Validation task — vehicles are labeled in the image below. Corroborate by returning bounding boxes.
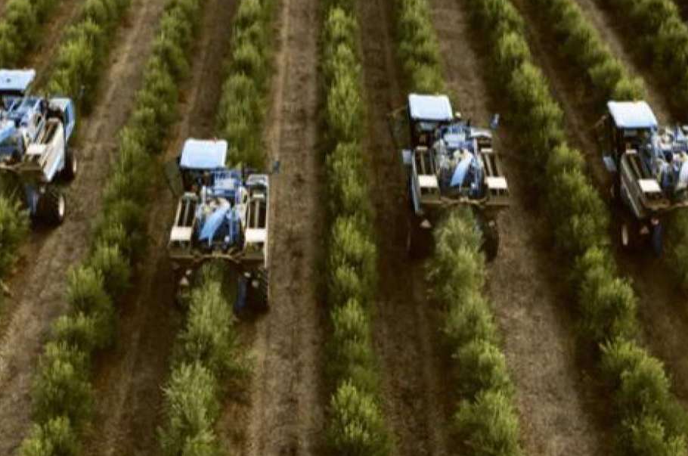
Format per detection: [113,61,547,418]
[0,69,82,220]
[161,135,281,315]
[591,96,688,259]
[387,97,504,261]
